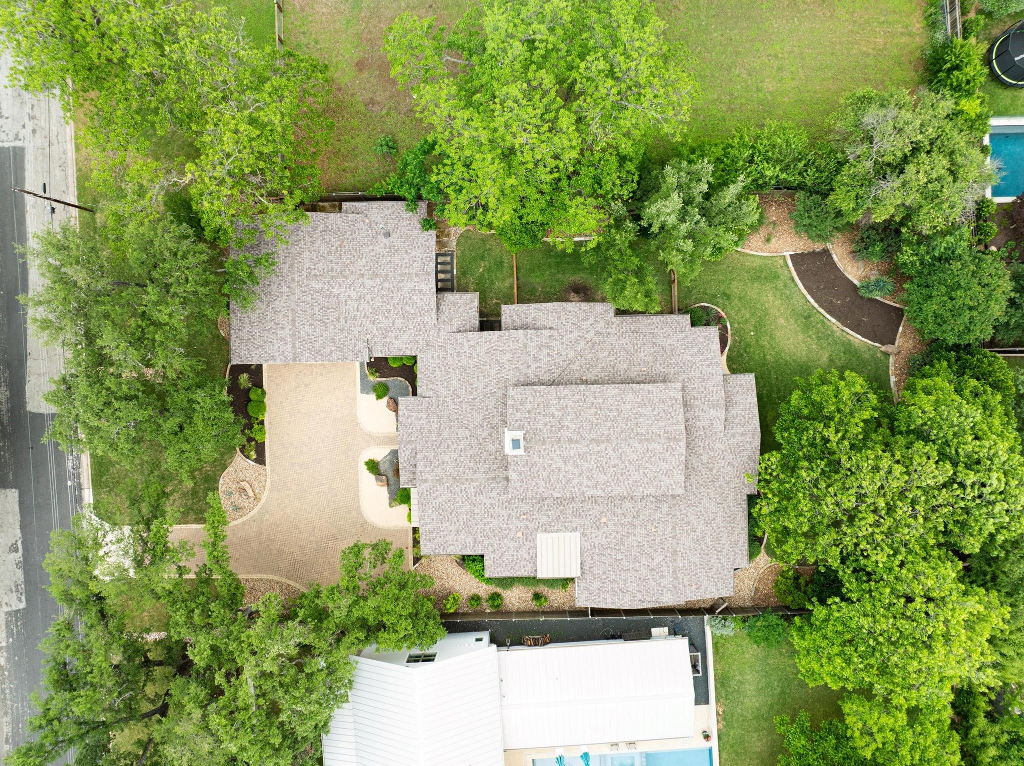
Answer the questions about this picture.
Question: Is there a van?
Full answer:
No, this view has no van in it.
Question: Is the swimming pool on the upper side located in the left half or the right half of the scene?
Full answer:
The swimming pool on the upper side is on the right side of the image.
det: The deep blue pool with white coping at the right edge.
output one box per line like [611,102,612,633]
[983,118,1024,203]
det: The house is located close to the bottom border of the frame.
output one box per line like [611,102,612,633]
[323,632,695,766]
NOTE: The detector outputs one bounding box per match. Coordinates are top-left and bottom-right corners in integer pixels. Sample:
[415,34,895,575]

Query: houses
[323,632,695,766]
[228,201,760,609]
